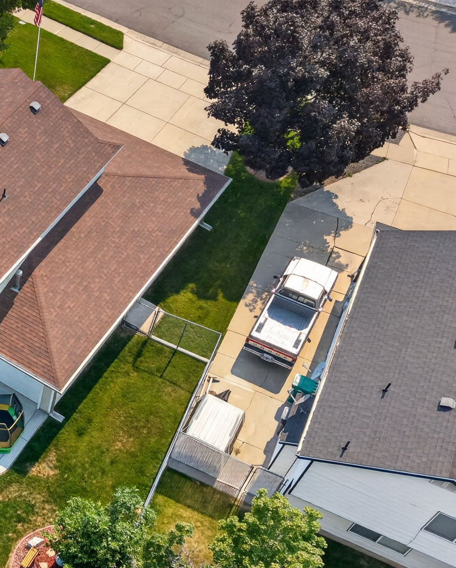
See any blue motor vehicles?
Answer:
No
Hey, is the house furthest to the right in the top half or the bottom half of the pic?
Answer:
bottom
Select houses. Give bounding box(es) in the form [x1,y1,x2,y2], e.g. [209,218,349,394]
[265,232,456,568]
[0,69,235,418]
